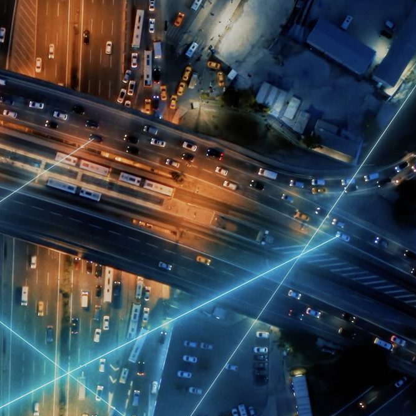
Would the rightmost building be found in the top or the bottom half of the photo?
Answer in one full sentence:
The rightmost building is in the top half of the image.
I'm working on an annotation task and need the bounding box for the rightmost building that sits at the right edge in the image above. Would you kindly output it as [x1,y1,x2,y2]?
[367,0,416,93]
